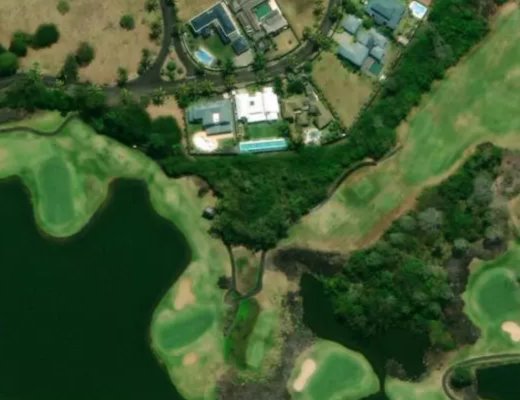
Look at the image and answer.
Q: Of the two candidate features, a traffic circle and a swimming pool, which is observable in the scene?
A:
swimming pool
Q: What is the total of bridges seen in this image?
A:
0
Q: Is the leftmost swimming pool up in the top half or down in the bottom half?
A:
top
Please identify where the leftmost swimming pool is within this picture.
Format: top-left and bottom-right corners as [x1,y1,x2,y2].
[194,46,217,67]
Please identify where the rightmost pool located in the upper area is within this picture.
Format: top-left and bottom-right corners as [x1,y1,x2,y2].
[409,1,427,19]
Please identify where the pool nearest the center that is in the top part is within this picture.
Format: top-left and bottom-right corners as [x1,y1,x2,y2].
[240,139,286,154]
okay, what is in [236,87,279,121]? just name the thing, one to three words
house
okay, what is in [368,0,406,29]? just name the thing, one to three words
house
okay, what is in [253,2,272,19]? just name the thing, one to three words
swimming pool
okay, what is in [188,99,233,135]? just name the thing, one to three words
building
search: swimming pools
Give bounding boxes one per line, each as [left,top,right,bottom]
[368,60,384,76]
[240,139,286,154]
[253,2,272,19]
[409,1,427,19]
[194,46,217,67]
